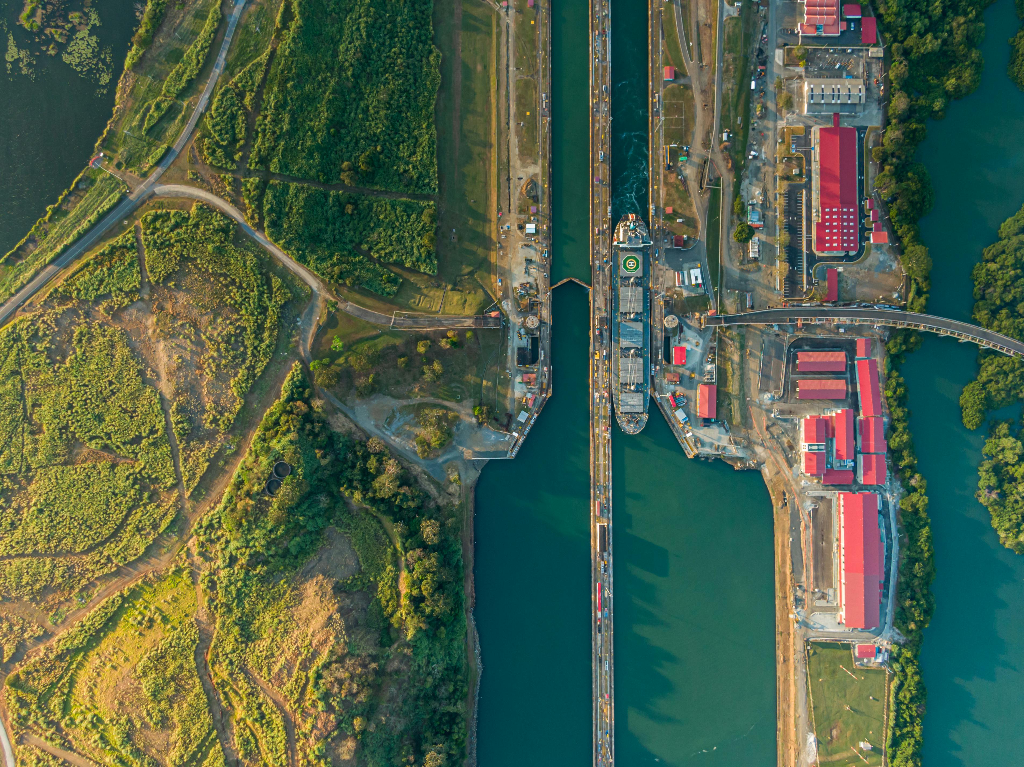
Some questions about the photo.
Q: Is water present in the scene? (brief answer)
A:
Yes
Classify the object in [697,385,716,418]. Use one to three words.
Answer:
building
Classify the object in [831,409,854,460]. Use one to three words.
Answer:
building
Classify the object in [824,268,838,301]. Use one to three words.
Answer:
shed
